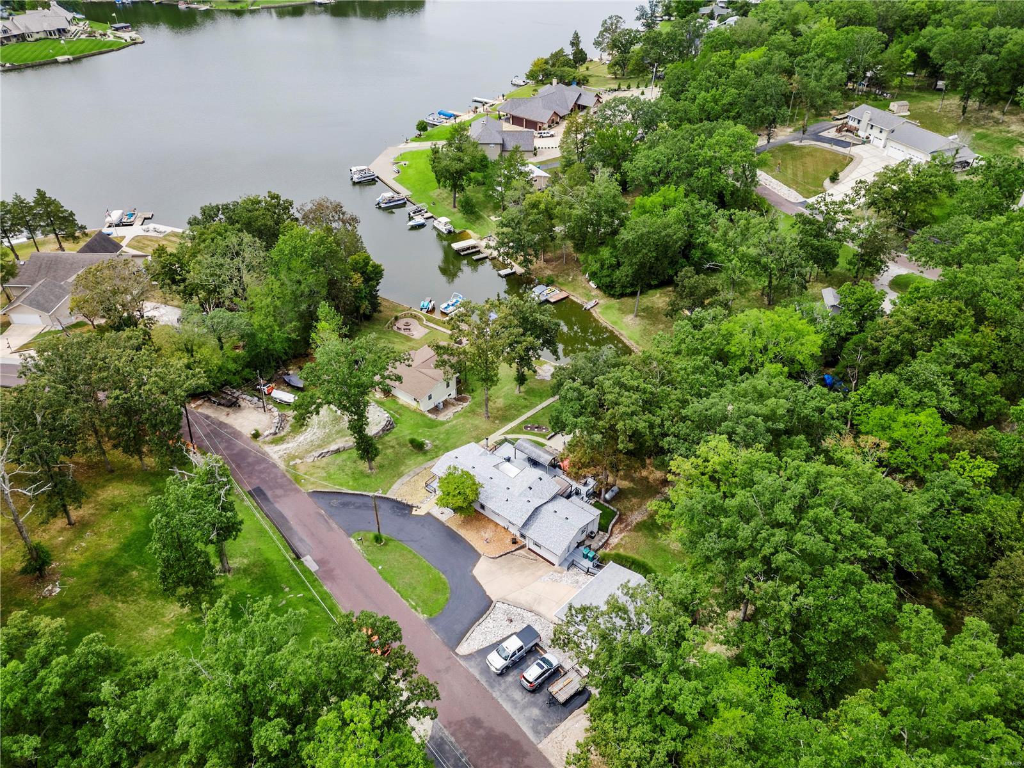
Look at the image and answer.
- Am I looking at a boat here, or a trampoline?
boat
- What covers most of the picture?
trees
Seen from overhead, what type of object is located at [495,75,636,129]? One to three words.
house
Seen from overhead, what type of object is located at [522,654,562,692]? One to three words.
car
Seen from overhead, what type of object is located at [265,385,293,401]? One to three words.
boat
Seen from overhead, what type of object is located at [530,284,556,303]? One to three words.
boat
